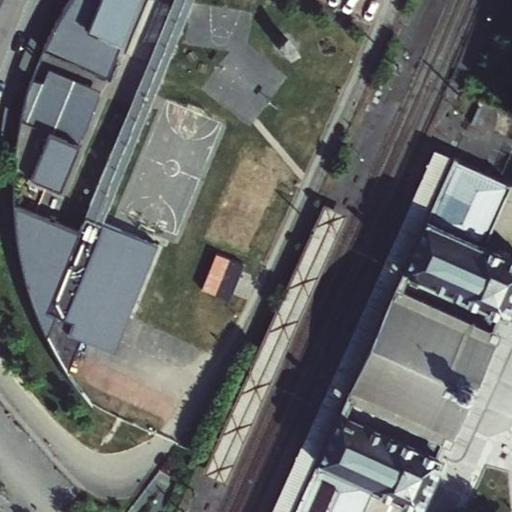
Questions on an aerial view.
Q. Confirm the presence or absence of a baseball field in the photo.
No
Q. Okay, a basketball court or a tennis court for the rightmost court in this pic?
basketball court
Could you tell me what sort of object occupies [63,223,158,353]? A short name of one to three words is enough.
building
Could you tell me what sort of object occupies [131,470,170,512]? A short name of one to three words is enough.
building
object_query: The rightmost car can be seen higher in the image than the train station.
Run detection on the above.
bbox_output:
[364,1,378,22]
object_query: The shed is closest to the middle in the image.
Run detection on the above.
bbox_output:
[202,255,240,298]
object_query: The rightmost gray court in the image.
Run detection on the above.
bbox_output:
[184,4,287,124]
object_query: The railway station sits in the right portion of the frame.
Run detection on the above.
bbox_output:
[301,162,512,512]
